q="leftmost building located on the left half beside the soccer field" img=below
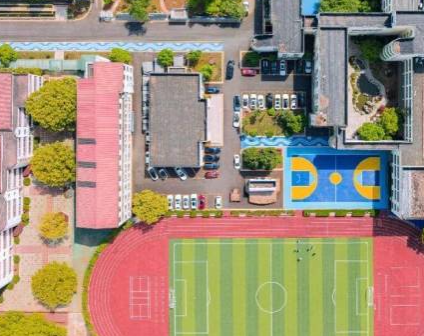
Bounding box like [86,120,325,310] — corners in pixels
[77,64,136,228]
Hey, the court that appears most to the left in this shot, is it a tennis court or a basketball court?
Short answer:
basketball court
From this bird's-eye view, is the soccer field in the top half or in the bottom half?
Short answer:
bottom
